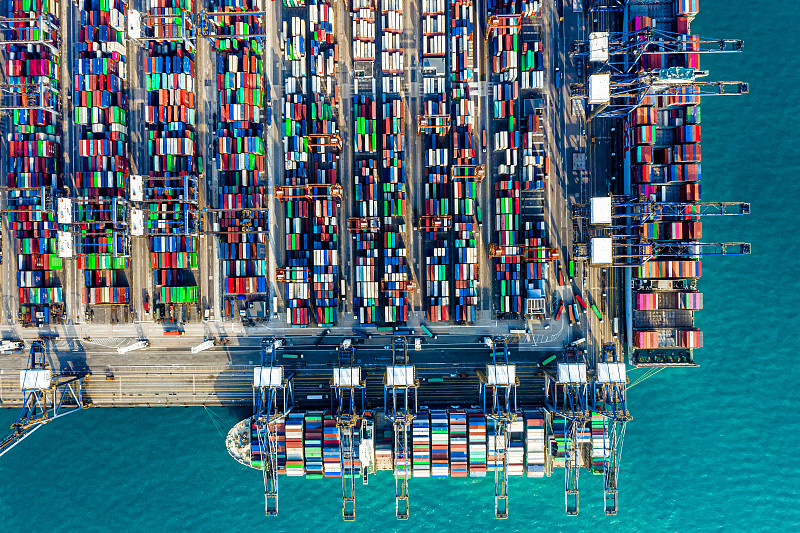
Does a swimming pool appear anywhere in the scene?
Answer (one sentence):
No, the picture doesn't show any swimming pool.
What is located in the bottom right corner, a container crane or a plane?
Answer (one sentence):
Looking in the bottom right corner, you will find a container crane.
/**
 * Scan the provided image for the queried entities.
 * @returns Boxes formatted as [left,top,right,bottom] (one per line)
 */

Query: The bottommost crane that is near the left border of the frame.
[0,345,98,464]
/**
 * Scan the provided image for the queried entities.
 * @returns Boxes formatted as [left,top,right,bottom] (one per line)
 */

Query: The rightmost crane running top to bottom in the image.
[570,338,633,516]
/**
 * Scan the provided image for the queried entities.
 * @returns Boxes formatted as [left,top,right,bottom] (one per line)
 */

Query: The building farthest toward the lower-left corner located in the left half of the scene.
[245,302,267,317]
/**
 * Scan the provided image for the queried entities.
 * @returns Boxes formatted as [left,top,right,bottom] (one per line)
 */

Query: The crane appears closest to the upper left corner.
[0,17,65,59]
